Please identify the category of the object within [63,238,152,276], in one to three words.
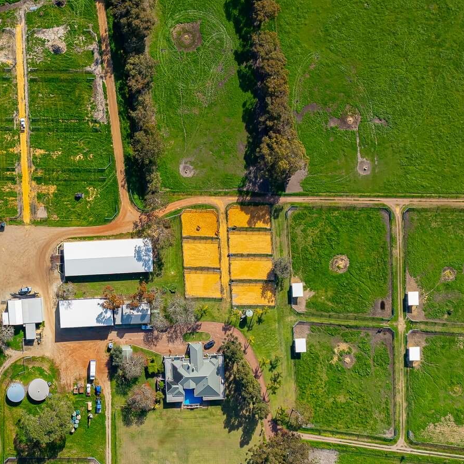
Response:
shed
